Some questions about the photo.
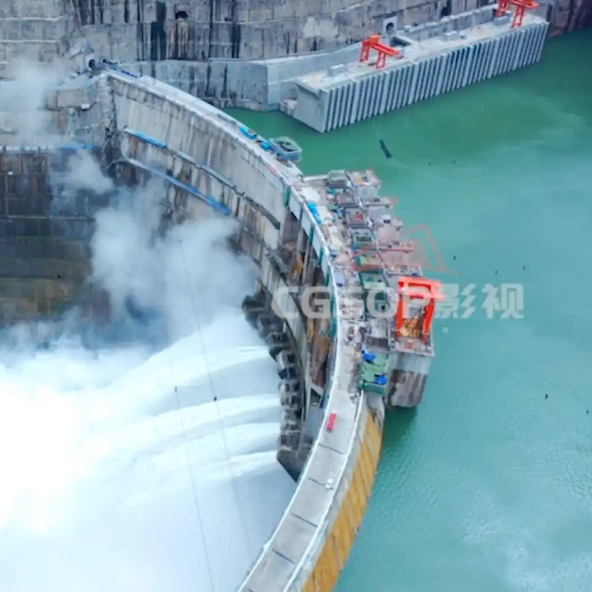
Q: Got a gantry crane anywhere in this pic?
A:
Yes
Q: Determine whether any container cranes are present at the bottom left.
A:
No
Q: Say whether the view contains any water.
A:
Yes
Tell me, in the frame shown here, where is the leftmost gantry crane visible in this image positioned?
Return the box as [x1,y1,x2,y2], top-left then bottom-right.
[368,31,406,70]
